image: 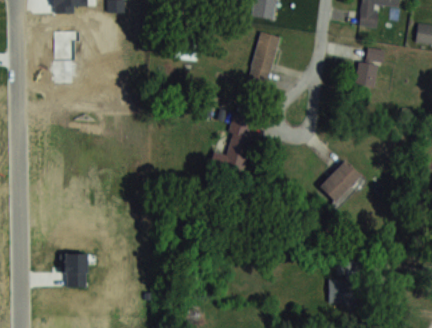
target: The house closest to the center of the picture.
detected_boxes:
[212,122,250,169]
